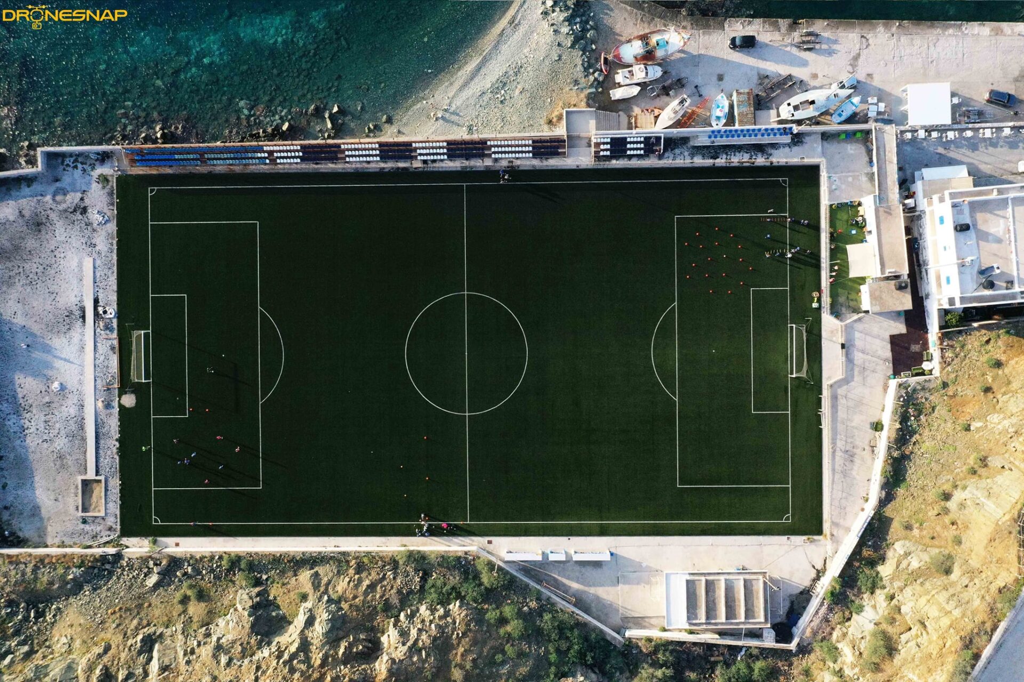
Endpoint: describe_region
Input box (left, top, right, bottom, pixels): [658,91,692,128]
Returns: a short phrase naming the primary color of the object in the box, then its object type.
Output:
white boat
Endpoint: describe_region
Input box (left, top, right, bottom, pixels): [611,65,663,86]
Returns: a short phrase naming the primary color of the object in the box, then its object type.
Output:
white boat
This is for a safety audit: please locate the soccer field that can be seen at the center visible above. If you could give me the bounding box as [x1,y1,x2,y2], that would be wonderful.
[115,165,822,537]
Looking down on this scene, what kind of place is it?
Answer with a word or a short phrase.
sports ground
